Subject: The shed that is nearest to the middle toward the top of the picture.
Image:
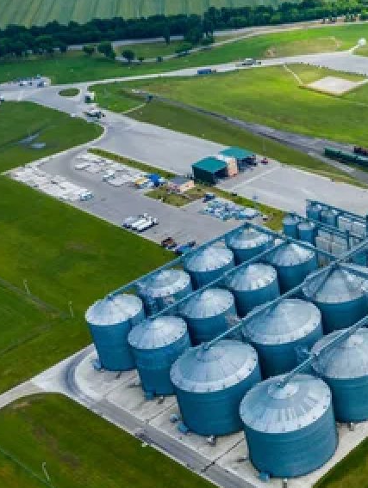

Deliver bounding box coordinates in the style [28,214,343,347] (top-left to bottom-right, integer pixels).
[165,181,198,201]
